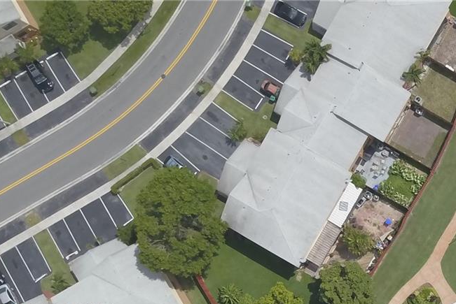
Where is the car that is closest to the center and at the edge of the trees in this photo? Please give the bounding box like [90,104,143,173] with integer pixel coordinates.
[163,152,195,177]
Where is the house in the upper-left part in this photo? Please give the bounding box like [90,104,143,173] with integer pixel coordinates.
[0,0,33,36]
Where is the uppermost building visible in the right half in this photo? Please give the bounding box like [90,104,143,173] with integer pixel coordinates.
[313,0,456,85]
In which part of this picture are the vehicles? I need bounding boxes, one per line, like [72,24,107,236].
[0,280,20,304]
[163,152,195,177]
[257,79,280,100]
[24,60,55,94]
[270,0,306,26]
